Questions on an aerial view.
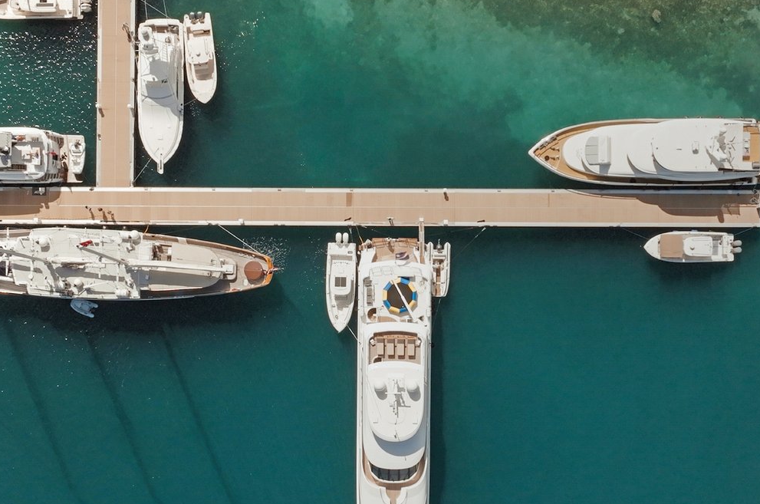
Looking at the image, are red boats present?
No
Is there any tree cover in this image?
No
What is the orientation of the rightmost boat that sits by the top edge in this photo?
vertically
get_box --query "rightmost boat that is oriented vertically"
[428,240,451,300]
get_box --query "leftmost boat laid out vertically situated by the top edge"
[135,0,185,173]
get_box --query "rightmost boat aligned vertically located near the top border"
[185,12,216,104]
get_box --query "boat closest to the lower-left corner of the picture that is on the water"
[71,299,97,317]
